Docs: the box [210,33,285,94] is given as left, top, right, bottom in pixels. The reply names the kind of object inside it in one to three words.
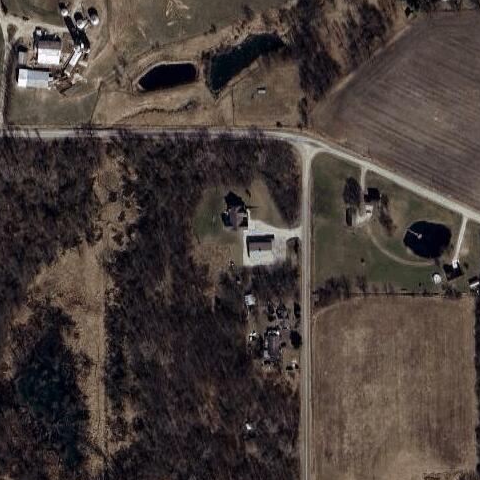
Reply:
pond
